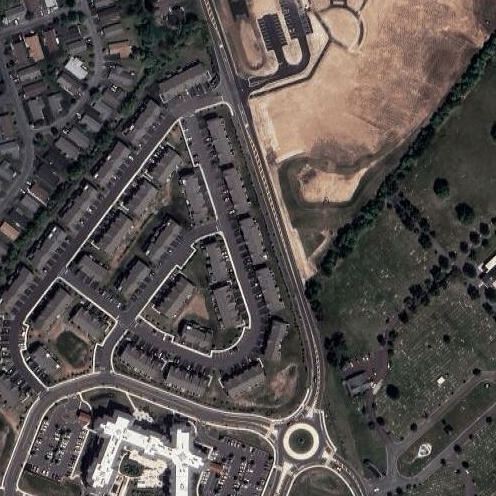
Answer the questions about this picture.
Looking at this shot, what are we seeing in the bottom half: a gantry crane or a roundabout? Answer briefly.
roundabout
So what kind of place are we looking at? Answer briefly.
residential area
